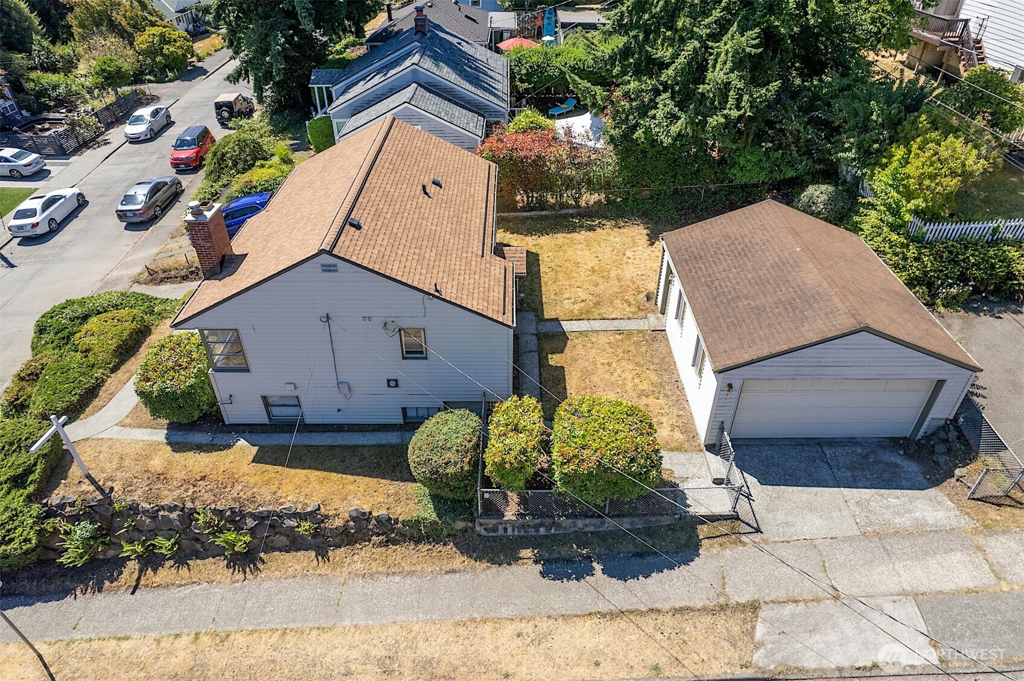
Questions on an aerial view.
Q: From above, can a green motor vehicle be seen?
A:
No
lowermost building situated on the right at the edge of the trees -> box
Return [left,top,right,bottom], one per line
[657,197,985,447]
